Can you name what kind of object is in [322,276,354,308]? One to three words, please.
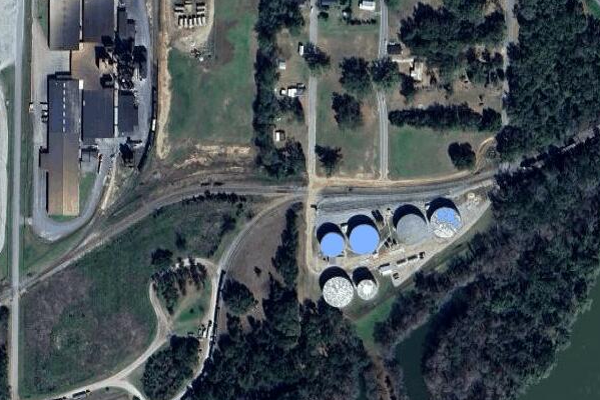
storage tank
